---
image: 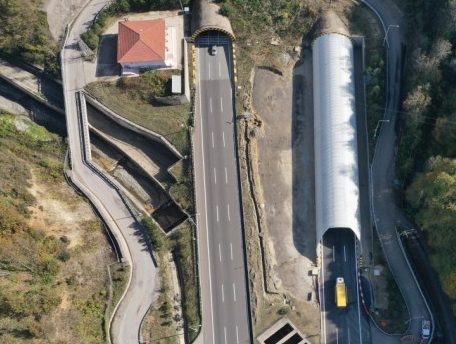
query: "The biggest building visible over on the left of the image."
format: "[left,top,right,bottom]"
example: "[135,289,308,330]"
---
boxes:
[118,19,177,78]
